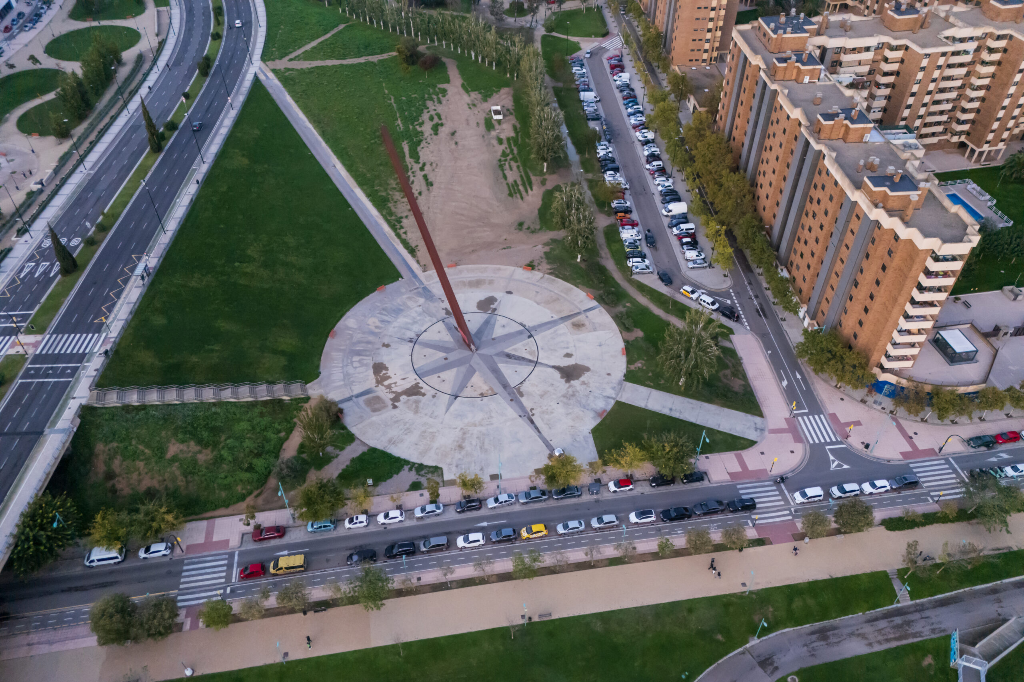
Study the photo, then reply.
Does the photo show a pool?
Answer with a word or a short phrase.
Yes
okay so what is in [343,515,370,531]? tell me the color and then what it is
white car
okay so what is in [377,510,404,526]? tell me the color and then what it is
white car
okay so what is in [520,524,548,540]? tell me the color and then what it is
yellow car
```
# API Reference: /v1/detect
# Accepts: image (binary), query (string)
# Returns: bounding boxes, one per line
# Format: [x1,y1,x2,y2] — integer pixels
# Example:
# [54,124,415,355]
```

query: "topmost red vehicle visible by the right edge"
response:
[994,431,1022,445]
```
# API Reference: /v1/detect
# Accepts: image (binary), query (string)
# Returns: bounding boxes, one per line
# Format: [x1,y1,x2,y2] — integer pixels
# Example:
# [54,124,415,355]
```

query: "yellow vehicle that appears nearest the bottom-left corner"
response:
[271,554,307,576]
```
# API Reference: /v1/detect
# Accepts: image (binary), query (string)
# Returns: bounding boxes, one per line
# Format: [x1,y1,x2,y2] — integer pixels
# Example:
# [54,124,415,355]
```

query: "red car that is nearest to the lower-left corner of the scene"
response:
[241,563,271,579]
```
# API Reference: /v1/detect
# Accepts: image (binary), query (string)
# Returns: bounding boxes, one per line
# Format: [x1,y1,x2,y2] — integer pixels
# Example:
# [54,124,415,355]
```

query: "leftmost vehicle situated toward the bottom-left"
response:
[84,544,127,568]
